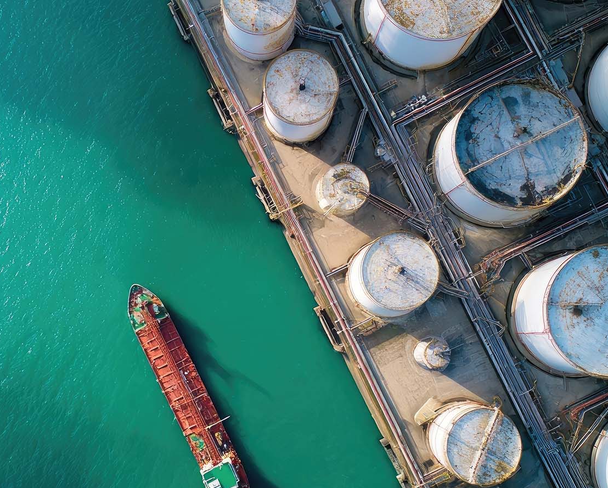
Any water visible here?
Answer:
Yes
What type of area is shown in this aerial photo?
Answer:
industrial area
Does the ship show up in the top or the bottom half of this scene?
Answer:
bottom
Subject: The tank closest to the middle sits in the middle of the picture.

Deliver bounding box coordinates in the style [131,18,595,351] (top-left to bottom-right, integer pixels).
[300,162,370,235]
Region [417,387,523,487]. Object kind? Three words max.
storage tank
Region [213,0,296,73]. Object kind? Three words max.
storage tank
